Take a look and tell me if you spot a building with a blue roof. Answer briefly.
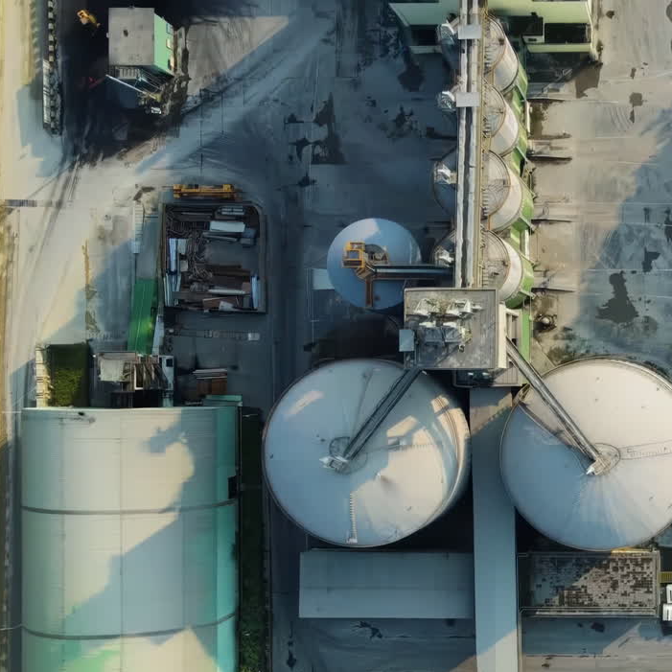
Yes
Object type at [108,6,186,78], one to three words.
building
